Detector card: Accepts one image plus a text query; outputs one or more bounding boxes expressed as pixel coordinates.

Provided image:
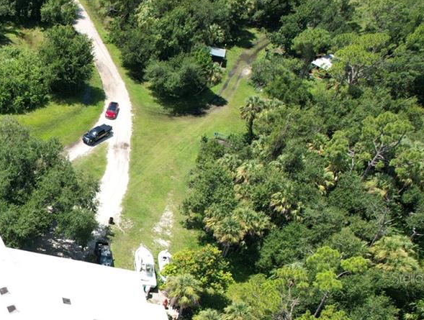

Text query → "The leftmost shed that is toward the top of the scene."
[206,44,233,64]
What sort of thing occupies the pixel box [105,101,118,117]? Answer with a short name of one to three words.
vehicle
